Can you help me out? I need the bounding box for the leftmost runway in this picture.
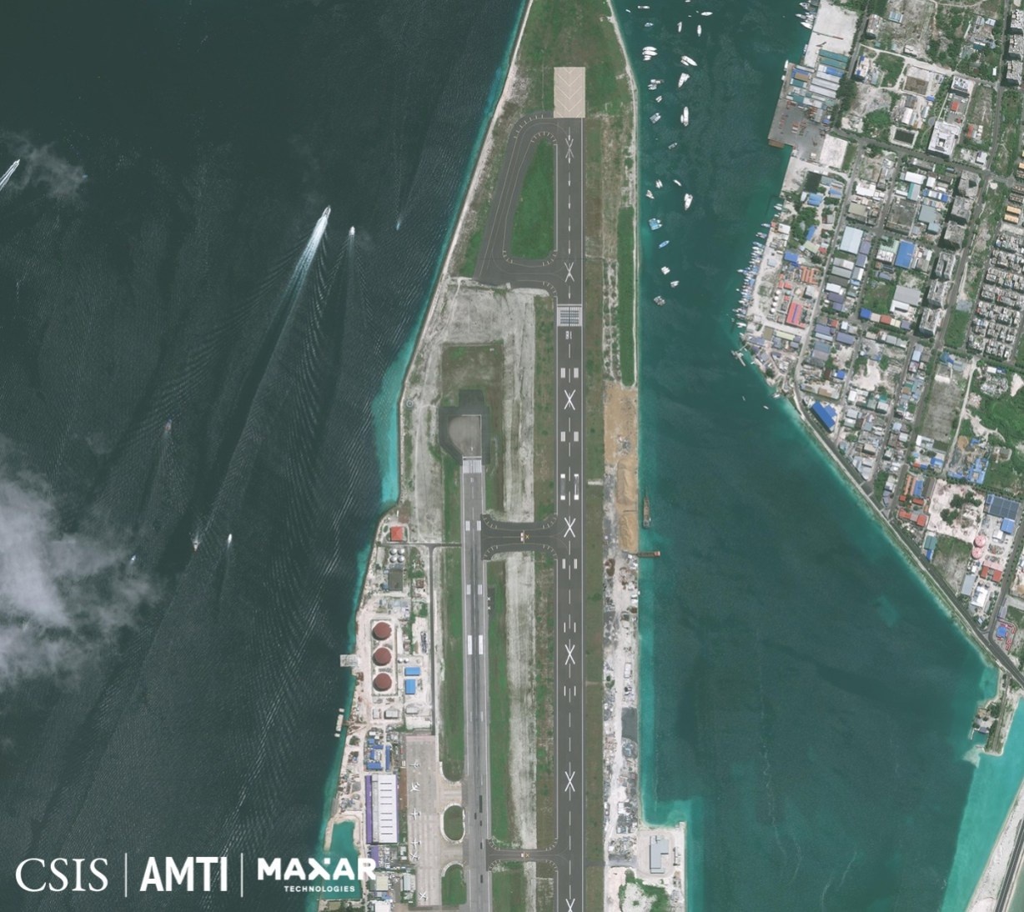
[460,457,493,912]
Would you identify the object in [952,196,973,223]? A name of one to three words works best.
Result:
building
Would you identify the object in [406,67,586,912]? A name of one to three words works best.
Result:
airport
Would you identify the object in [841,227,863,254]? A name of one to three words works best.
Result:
building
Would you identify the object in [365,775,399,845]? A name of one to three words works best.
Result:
hangar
